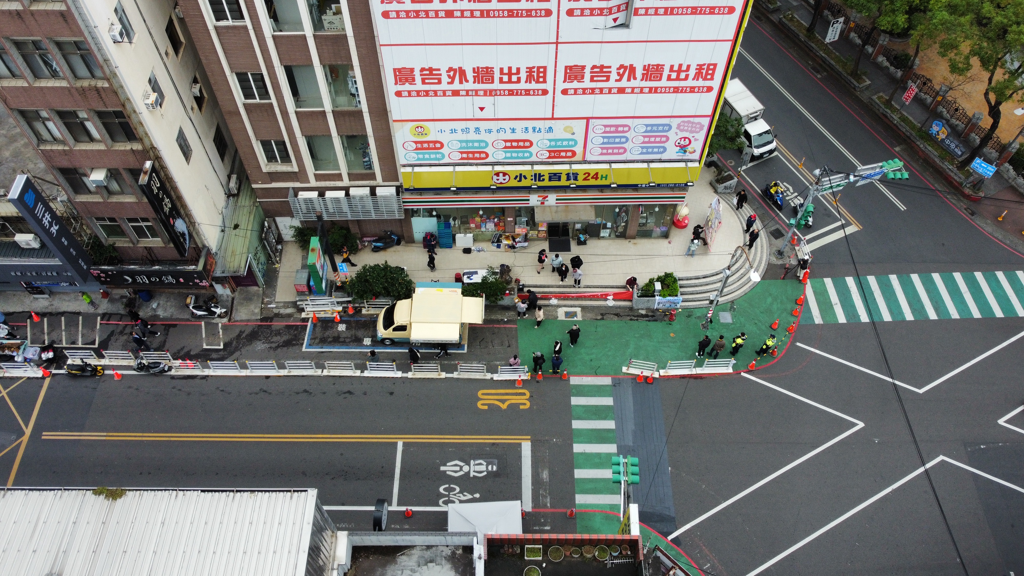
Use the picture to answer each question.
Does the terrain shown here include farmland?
No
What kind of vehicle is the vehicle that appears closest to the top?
truck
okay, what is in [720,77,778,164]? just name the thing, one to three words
truck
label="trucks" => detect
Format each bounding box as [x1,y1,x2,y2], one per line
[720,77,778,164]
[372,278,486,346]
